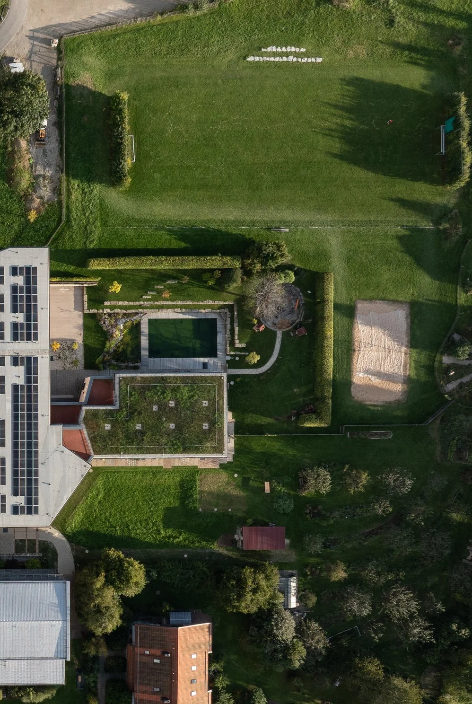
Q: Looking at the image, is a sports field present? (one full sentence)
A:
Yes, I can see a sports field in this picture.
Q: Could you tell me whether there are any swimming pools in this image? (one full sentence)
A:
Yes, a swimming pool is visible in the scene.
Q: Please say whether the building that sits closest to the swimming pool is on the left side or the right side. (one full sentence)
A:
It is on the left.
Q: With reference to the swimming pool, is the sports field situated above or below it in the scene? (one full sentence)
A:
As seen from overhead, the sports field falls above the swimming pool in the picture.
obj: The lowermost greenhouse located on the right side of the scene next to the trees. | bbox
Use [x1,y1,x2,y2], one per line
[278,577,301,609]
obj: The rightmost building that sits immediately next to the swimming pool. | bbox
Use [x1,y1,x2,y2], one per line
[51,373,228,464]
